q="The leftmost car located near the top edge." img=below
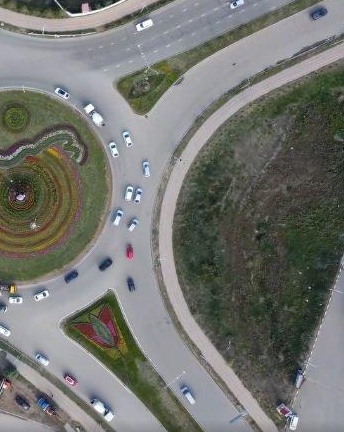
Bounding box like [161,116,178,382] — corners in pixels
[135,18,153,31]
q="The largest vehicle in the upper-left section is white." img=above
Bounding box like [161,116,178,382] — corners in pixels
[82,101,105,125]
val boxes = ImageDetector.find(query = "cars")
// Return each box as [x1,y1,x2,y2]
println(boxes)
[63,269,79,283]
[112,210,123,226]
[126,243,133,259]
[180,386,195,404]
[98,256,113,271]
[34,352,50,366]
[135,18,153,31]
[310,7,327,19]
[122,131,133,147]
[126,276,136,291]
[134,188,141,203]
[0,324,11,336]
[128,217,138,232]
[141,161,150,176]
[54,87,70,99]
[8,296,22,302]
[108,141,119,157]
[228,0,245,9]
[34,289,50,300]
[125,186,133,201]
[63,372,78,386]
[14,396,30,409]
